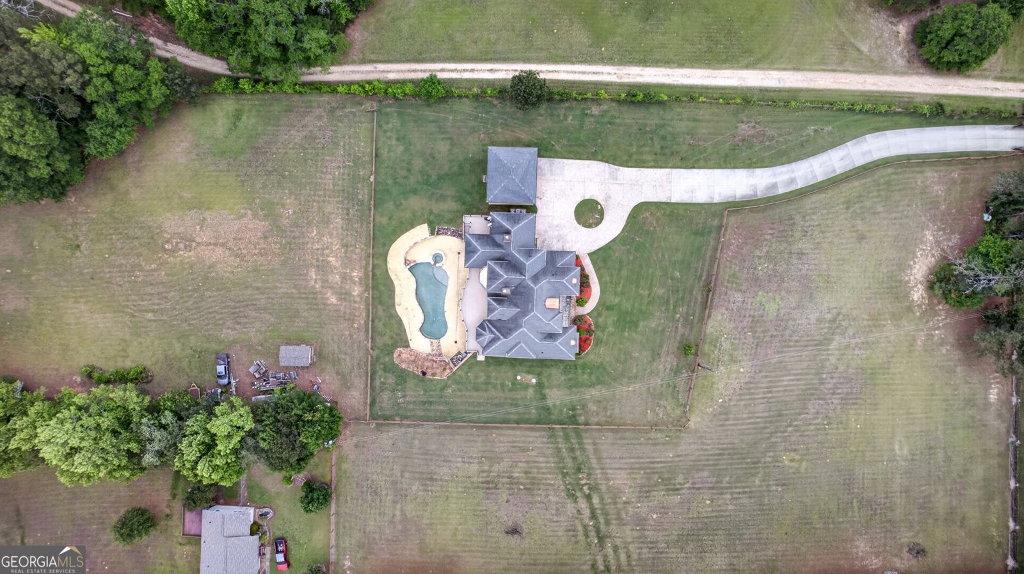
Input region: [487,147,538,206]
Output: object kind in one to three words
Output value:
building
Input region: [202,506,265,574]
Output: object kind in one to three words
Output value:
house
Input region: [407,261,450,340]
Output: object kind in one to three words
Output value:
swimming pool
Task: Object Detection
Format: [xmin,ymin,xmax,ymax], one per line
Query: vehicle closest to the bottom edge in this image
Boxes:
[275,538,292,572]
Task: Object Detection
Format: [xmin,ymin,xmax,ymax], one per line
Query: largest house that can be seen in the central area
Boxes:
[465,212,581,360]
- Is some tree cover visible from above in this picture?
Yes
